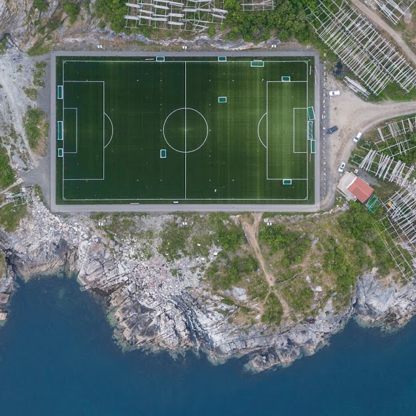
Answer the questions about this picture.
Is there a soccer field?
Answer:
Yes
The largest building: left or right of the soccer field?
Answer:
to the right of it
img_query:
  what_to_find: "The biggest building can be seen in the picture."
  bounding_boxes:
[337,172,374,203]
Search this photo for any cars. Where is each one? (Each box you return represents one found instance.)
[353,131,362,142]
[338,160,345,172]
[326,126,338,133]
[329,90,339,95]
